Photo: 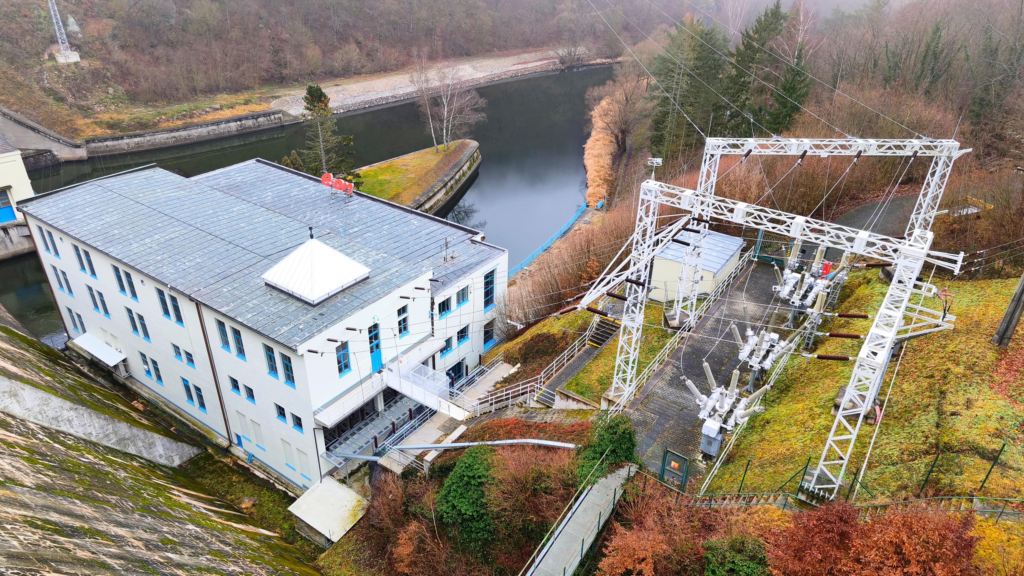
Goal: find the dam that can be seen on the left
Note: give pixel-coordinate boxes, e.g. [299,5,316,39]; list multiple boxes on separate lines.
[0,304,326,576]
